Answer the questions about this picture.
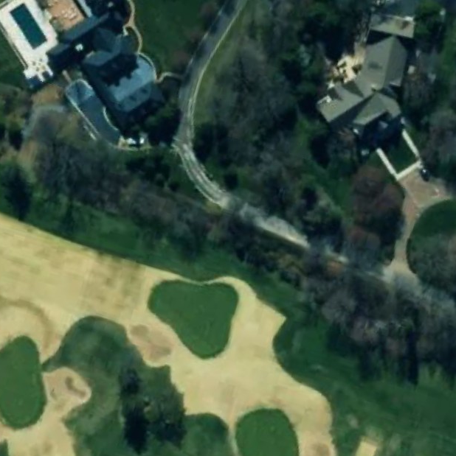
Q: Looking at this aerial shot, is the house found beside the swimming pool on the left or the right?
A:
left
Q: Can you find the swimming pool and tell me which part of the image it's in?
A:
top left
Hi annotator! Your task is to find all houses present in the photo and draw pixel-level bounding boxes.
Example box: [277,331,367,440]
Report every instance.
[313,0,421,134]
[44,0,159,112]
